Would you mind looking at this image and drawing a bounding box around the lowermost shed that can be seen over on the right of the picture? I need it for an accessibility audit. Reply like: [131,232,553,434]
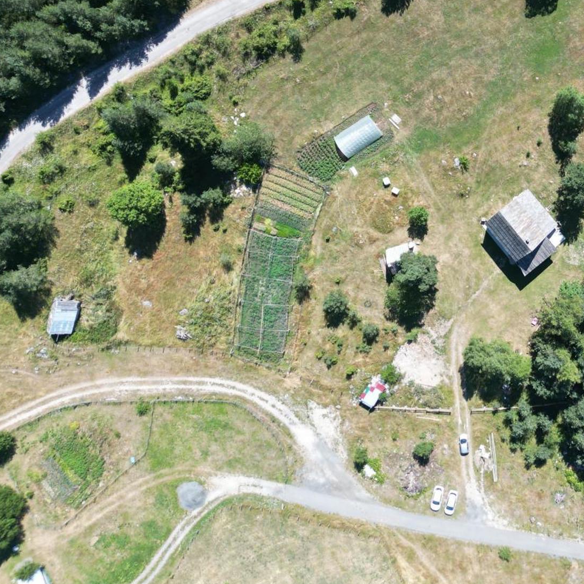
[361,382,386,407]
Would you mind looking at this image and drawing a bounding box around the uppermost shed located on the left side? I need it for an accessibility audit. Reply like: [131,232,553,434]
[47,299,87,341]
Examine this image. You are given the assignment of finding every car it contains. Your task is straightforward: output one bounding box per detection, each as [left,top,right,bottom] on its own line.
[430,484,443,512]
[444,488,458,516]
[458,432,469,457]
